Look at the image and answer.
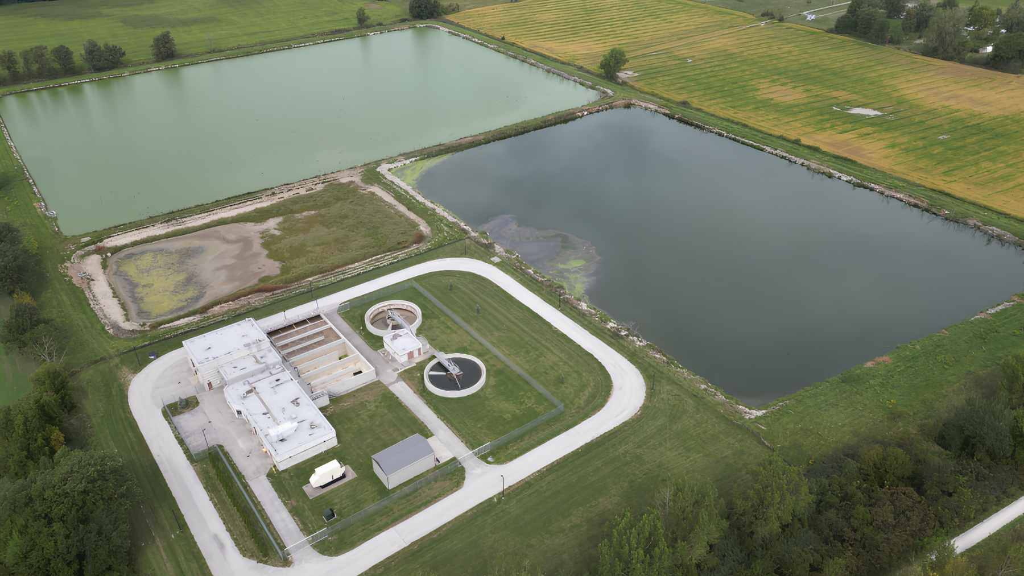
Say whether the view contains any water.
Yes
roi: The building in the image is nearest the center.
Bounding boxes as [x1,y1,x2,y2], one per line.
[381,327,423,364]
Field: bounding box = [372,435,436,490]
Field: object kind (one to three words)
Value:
shed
